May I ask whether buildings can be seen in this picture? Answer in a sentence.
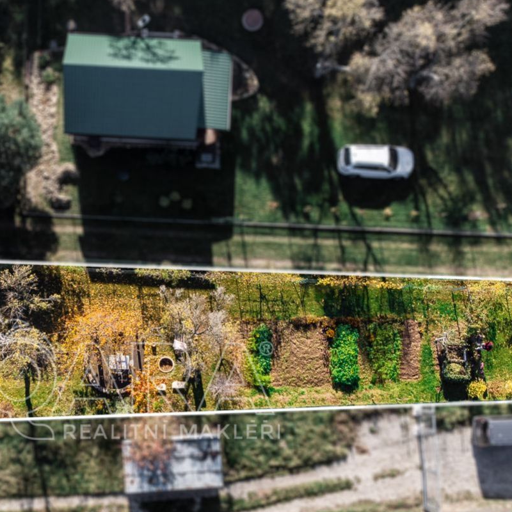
Yes, there's a building here.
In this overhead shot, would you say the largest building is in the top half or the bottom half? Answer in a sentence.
You can find the largest building in the top half.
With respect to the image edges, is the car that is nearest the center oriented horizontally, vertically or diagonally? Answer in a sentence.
From this overhead view, the car that is nearest the center appears to run horizontally.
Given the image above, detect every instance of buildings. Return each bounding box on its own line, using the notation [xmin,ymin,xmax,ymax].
[122,433,224,495]
[63,32,235,154]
